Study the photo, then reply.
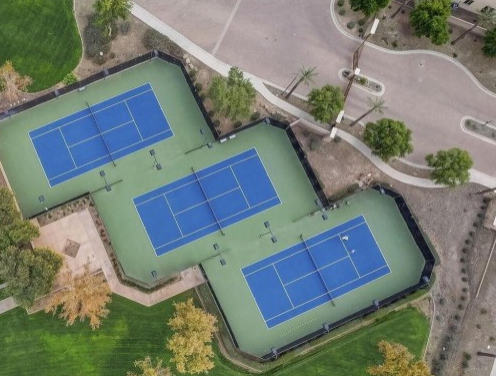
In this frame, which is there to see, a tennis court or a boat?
tennis court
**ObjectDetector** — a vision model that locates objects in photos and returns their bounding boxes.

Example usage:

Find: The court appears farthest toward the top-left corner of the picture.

[0,59,218,217]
